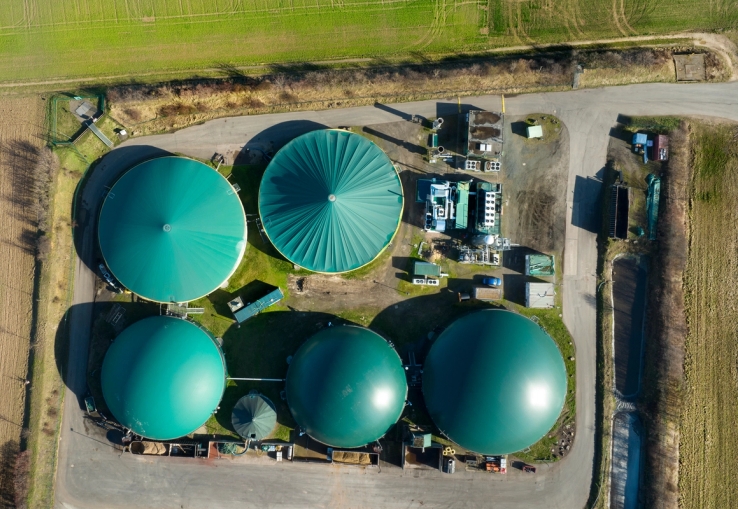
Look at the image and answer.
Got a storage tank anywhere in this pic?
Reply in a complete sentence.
Yes, looking at the shot, I can spot a storage tank.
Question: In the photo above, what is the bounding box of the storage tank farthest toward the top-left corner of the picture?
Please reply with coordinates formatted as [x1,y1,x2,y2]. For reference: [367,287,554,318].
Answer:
[99,156,250,309]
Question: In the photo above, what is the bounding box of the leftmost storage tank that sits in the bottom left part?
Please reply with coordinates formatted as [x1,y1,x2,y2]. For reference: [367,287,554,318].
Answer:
[102,314,231,440]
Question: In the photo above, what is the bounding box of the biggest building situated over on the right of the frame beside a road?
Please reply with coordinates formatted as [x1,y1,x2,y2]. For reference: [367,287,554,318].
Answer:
[466,111,504,162]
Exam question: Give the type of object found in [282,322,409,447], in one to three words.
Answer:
storage tank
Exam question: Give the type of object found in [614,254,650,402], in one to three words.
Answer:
pond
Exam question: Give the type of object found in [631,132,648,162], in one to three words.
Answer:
work vehicle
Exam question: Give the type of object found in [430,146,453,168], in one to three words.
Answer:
chimney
